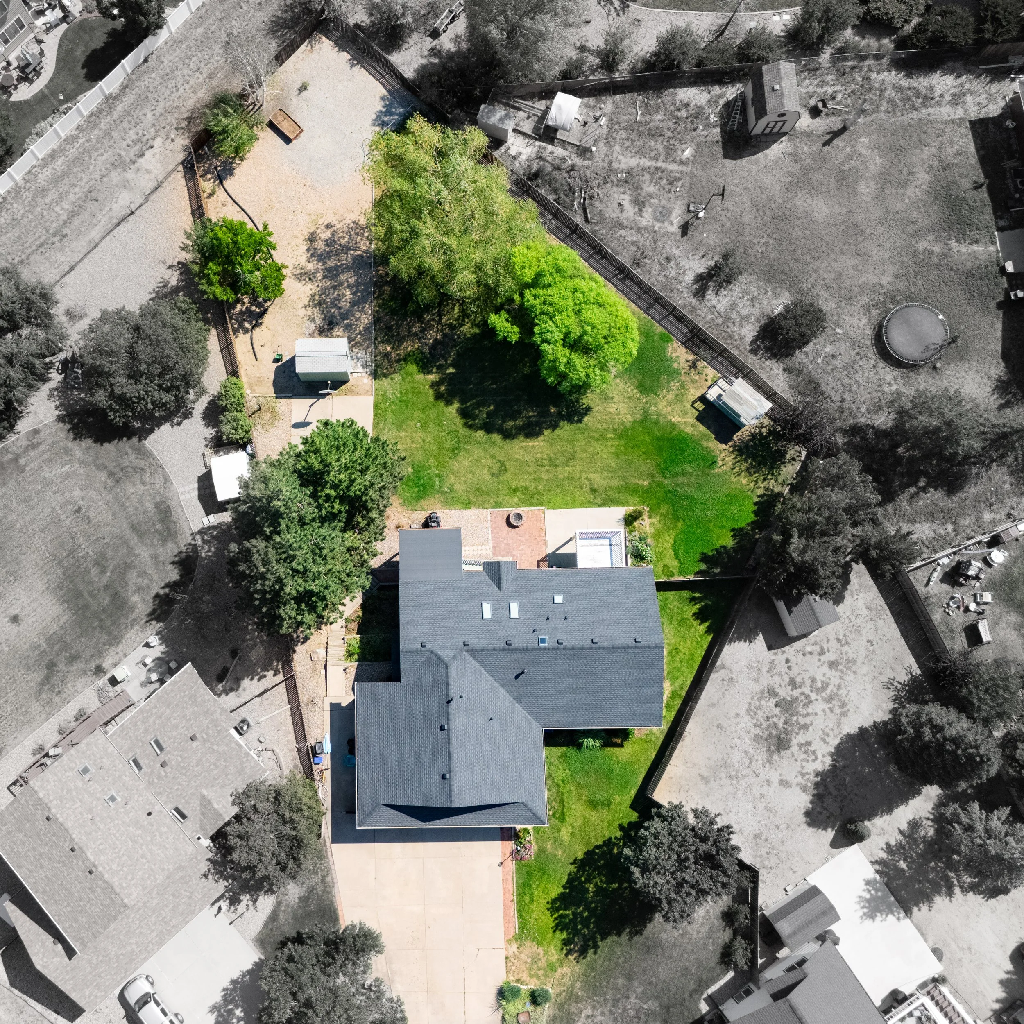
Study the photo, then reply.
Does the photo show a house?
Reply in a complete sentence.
Yes, a house appears in the view.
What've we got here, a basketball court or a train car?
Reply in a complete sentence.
Of the two, only a basketball court appears.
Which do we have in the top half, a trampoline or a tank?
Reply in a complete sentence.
You can see a trampoline in the top half.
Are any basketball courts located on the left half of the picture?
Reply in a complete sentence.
Yes, a basketball court is visible on the left half of the picture.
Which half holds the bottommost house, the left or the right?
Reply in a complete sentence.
The bottommost house is on the right side of the image.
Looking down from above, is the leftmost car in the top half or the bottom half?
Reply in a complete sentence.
It is in the bottom half that the leftmost car appears.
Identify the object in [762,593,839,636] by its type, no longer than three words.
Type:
shed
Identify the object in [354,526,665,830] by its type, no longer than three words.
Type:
house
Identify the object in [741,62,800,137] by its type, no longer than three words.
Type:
shed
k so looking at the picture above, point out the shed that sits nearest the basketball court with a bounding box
[295,337,349,381]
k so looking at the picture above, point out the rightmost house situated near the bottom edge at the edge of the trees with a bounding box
[720,877,890,1024]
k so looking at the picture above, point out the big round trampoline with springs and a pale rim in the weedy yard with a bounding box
[880,299,954,368]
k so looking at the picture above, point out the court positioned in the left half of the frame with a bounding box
[288,396,372,471]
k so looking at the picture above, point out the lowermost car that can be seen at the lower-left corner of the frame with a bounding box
[113,972,185,1024]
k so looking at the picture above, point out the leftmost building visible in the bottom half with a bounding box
[0,662,269,1010]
